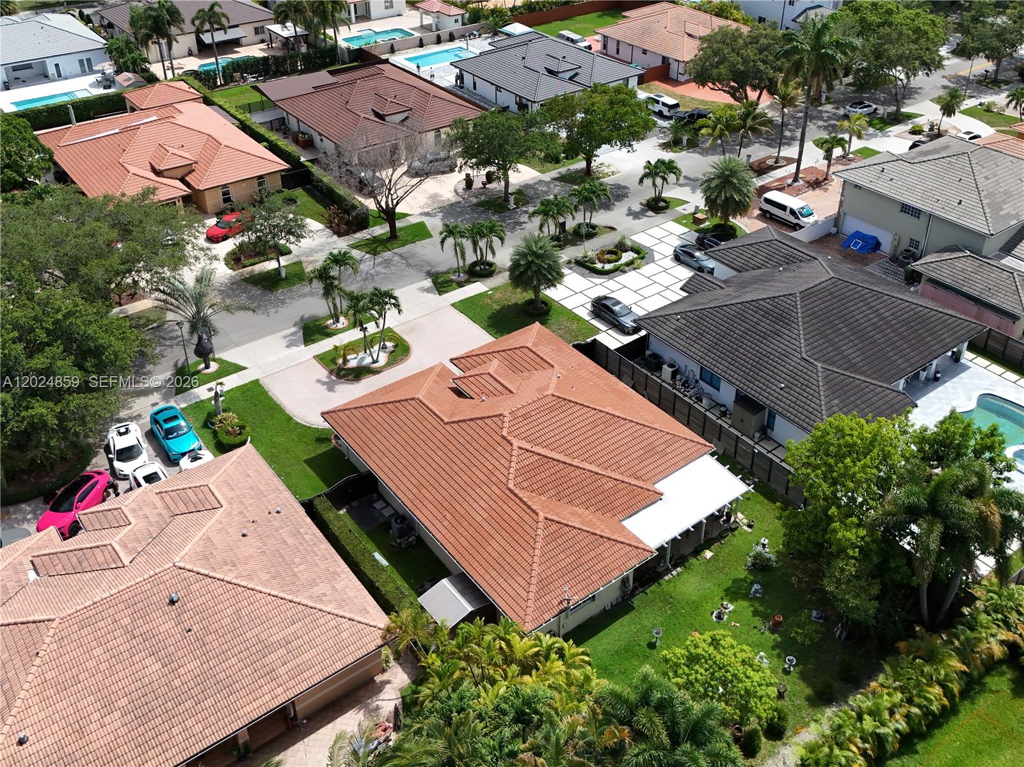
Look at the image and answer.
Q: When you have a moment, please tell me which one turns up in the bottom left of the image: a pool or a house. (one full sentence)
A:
The one visible in the bottom left of the image is a house.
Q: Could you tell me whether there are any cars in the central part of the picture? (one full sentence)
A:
Yes, a car appears in the central part of the picture.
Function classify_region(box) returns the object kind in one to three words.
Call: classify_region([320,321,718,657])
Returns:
house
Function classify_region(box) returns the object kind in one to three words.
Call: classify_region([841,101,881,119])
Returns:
car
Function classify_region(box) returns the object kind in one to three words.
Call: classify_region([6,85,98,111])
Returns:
swimming pool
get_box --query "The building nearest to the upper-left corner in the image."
[0,11,107,86]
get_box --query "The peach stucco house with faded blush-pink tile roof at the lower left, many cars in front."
[0,440,402,767]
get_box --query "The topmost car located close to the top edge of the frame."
[558,31,589,48]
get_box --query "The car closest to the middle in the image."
[586,297,642,336]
